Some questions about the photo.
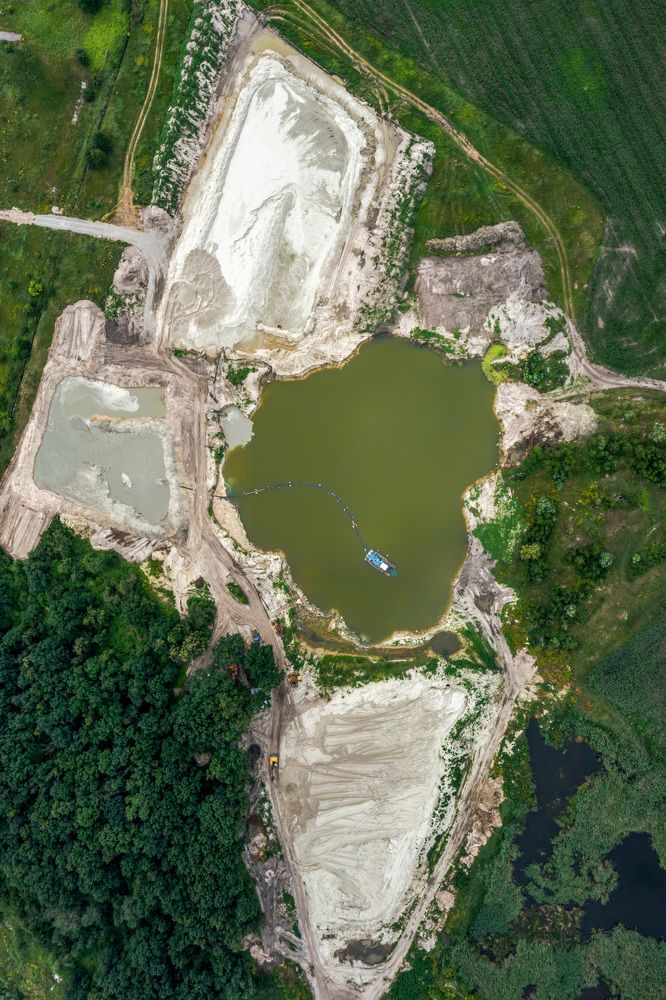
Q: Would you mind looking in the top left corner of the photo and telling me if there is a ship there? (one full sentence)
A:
No, I see no ship in the top left corner of the photo.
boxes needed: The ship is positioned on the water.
[363,547,398,576]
